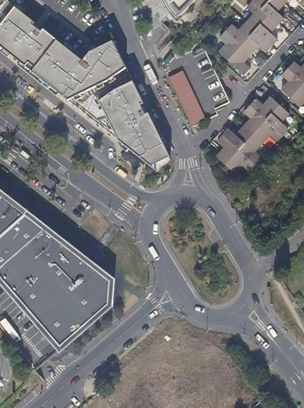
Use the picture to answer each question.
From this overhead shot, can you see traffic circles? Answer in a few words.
Yes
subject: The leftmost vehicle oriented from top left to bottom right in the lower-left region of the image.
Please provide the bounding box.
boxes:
[0,317,20,340]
